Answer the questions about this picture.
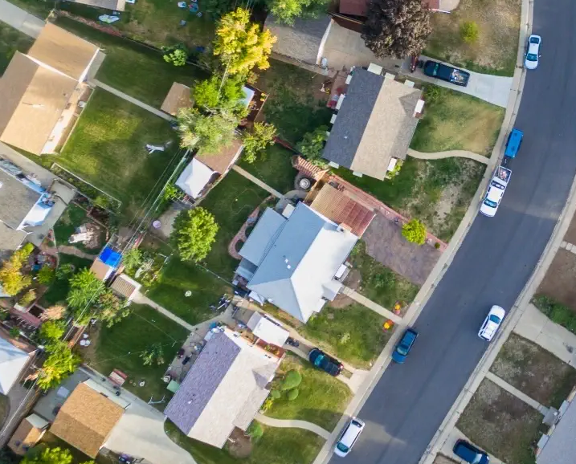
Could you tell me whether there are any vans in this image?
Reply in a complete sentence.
Yes, there's a van down there.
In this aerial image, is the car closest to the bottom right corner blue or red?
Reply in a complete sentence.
The car closest to the bottom right corner looks blue in the image.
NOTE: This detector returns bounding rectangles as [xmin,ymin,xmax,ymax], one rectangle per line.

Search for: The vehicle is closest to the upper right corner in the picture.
[524,34,541,69]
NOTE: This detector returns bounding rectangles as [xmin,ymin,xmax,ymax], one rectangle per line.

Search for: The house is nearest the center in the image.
[236,203,358,323]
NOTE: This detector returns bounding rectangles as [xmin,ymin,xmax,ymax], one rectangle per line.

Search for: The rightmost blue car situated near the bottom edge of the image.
[452,439,491,464]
